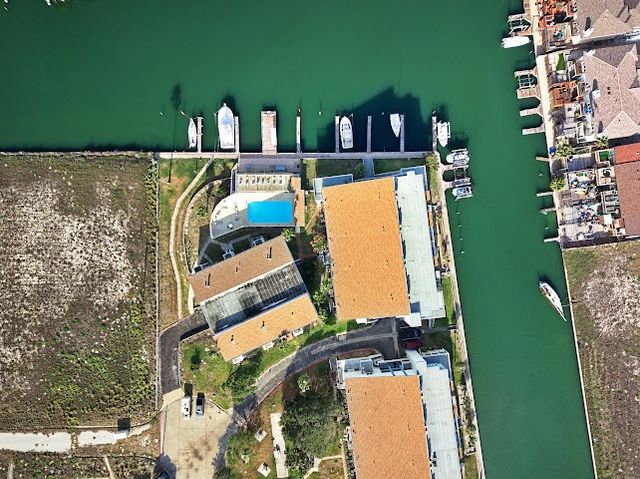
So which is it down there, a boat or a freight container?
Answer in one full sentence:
The one in the frame is a boat.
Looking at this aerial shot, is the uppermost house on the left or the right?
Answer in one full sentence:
The uppermost house is on the right side of the image.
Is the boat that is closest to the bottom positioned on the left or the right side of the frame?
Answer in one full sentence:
It is on the right.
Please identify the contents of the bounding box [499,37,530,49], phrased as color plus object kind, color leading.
white boat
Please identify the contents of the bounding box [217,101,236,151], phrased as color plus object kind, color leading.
white boat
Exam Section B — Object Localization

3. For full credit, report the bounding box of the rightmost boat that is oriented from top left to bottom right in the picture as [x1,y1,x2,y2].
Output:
[536,281,575,318]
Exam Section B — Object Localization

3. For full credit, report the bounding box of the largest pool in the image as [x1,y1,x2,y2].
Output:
[209,192,295,239]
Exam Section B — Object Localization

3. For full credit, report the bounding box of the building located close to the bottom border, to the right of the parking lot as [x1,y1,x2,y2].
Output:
[336,343,467,479]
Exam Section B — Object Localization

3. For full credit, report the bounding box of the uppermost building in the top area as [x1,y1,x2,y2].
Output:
[563,0,640,50]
